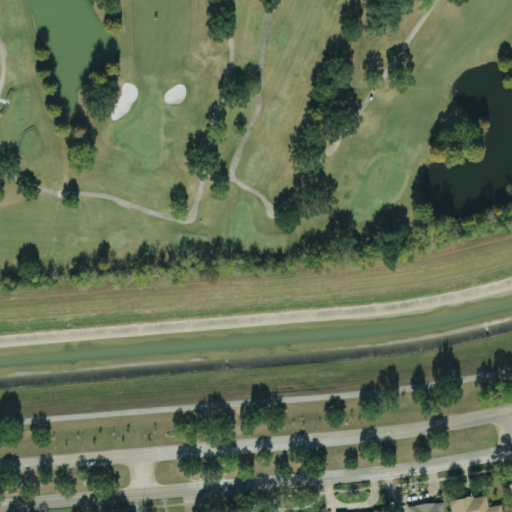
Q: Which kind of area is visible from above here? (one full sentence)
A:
This image shows a golf course.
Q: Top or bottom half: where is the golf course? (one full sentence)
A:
Seen from above, the golf course lies in the top half of the view.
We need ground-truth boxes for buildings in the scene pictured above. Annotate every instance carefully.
[450,498,504,512]
[409,501,446,512]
